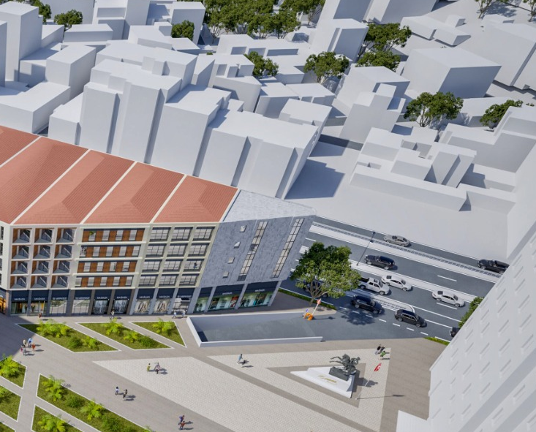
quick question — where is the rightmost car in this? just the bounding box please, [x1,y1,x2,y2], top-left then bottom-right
[478,258,509,272]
